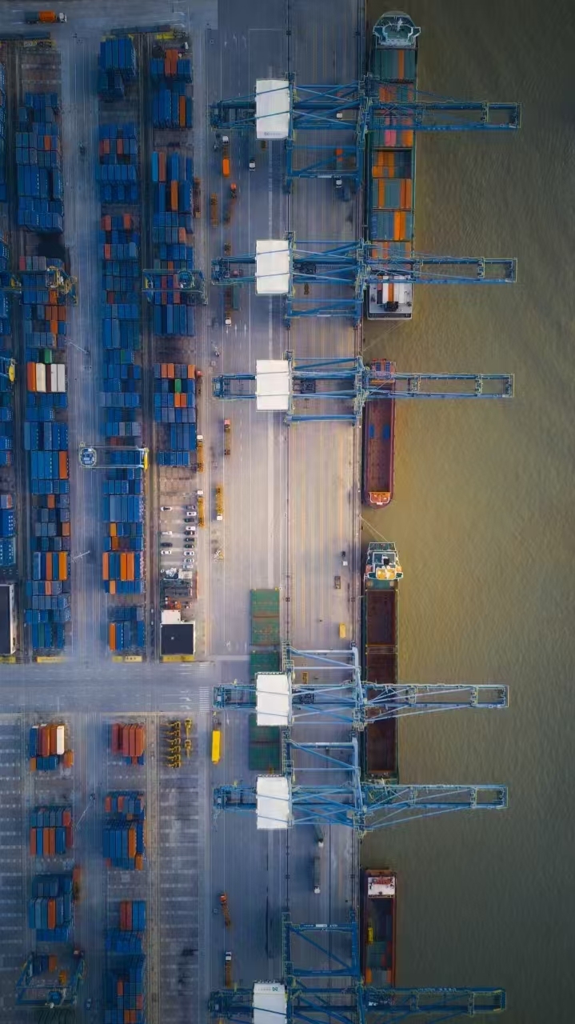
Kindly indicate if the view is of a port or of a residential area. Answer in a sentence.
What you see here is a port.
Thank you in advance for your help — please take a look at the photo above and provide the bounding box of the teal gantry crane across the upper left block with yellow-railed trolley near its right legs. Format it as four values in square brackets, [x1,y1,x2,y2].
[0,271,77,317]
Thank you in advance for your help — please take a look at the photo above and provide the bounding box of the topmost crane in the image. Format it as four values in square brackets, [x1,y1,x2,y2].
[210,60,522,195]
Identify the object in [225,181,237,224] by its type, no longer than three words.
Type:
vehicle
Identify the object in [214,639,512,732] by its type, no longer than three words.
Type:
container crane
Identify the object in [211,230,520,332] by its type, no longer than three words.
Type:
container crane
